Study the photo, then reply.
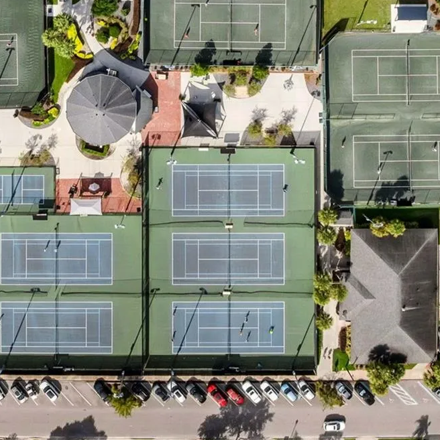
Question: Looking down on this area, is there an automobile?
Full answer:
Yes, an automobile can be made out from above.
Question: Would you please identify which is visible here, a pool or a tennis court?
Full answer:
The one in the frame is a tennis court.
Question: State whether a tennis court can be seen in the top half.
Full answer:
Yes, you'll find a tennis court in the top half.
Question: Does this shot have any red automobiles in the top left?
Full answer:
No, in the top left there is no red automobile.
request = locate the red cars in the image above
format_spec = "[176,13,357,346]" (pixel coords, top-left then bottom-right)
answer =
[226,386,244,405]
[206,383,226,405]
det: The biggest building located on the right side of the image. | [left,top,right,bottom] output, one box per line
[337,229,437,364]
